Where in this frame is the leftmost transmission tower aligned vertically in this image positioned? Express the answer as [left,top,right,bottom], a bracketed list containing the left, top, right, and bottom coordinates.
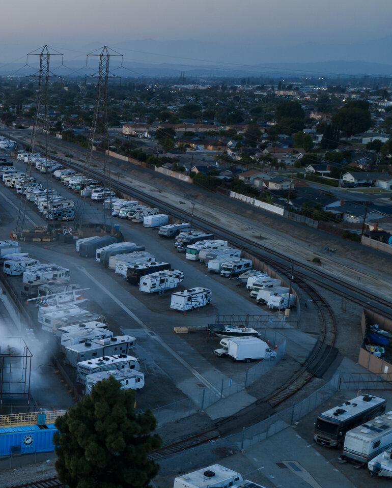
[12,45,66,235]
